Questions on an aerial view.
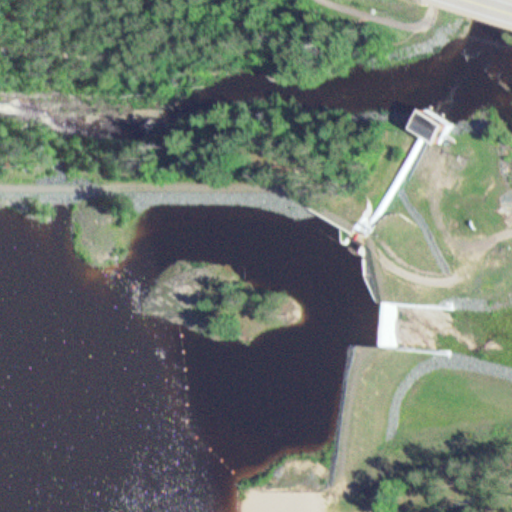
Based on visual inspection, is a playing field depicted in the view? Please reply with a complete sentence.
No, I can't see a single playing field in this photo.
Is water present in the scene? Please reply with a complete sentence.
Yes, there's water in this view.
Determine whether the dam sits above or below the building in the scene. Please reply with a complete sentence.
The dam is found below the building in the photo.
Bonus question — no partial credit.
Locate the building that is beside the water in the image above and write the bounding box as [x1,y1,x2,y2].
[404,108,456,150]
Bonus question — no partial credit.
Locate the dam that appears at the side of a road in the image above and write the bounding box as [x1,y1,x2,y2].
[0,190,454,487]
